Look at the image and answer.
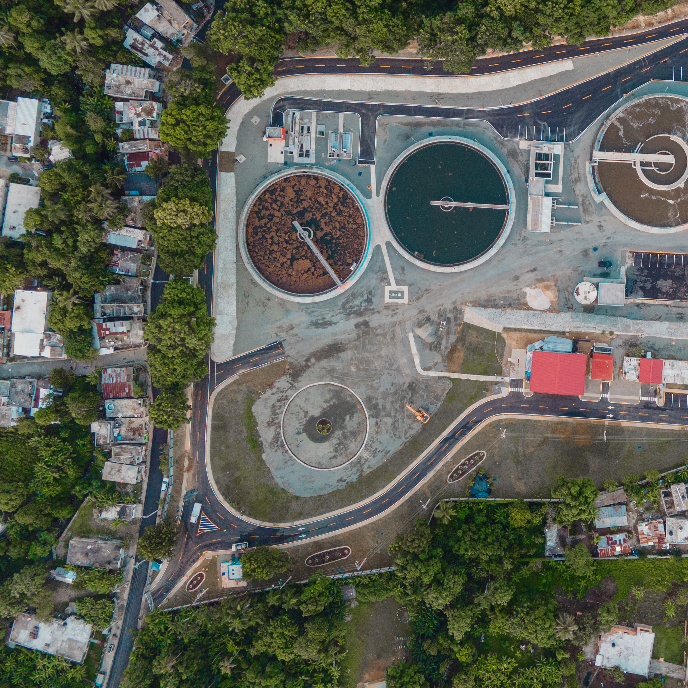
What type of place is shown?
residential area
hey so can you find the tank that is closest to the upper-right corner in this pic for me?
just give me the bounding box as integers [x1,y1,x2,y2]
[586,92,688,232]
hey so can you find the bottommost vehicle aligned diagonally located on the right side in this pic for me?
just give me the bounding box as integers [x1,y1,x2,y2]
[405,401,432,425]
